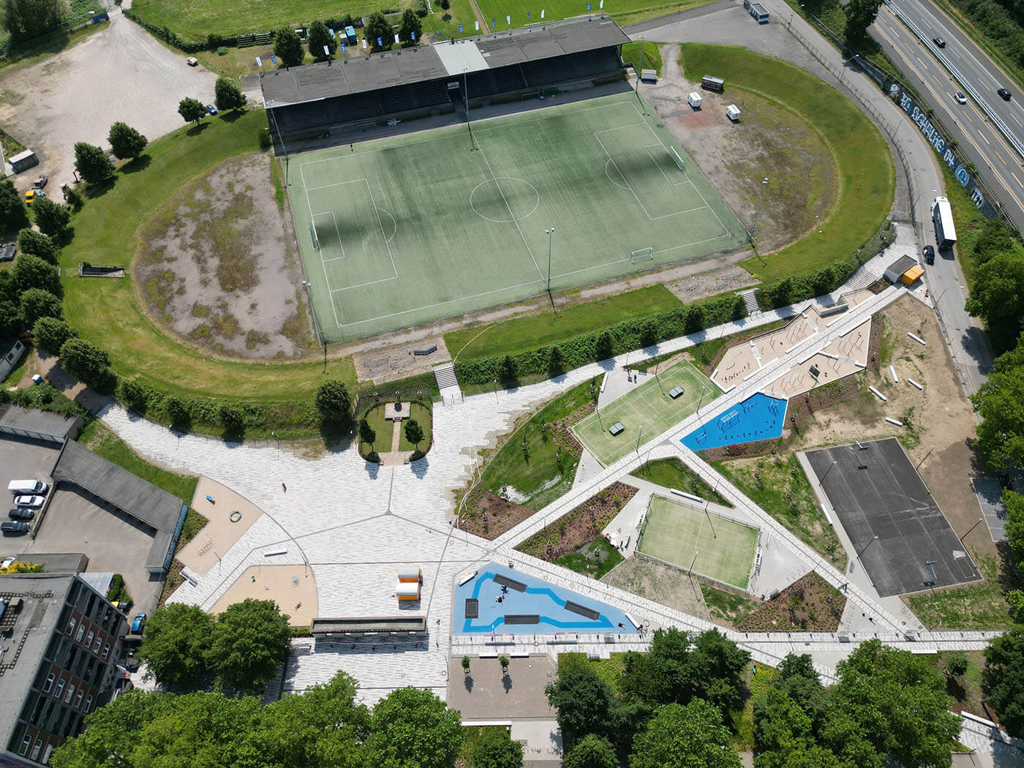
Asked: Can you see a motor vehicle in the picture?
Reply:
Yes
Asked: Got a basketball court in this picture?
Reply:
Yes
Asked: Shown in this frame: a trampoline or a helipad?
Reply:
trampoline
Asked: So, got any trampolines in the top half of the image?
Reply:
No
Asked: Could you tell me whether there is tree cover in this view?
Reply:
Yes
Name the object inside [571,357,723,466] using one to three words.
tennis court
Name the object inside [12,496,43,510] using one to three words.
car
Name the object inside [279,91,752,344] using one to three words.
soccer field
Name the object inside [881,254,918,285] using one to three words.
shed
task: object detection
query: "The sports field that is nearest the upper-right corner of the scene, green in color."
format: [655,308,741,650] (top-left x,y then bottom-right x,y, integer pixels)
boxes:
[477,0,707,32]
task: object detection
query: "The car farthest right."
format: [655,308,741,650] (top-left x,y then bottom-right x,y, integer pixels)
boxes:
[998,88,1015,100]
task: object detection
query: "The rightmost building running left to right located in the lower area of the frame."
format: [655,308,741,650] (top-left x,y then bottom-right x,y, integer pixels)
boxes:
[311,616,426,637]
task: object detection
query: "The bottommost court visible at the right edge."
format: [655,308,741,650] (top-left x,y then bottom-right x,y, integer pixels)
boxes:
[796,437,986,598]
